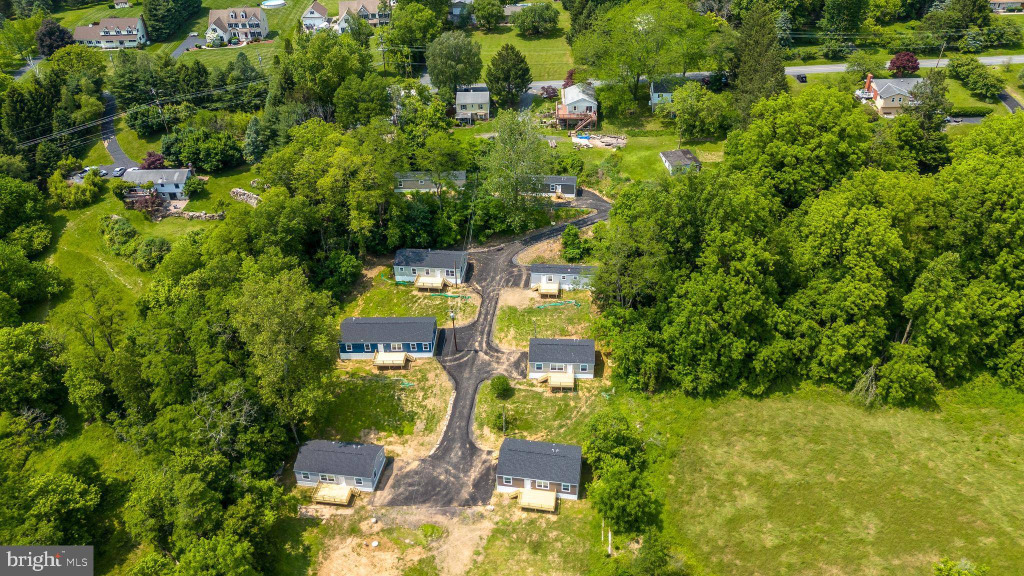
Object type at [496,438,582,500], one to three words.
house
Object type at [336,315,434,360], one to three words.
house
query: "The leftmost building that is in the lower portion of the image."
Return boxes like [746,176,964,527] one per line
[293,432,384,492]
